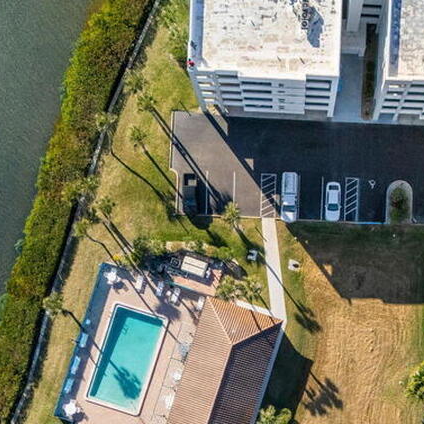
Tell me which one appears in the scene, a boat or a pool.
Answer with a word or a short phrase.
pool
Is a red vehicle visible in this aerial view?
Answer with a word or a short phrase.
No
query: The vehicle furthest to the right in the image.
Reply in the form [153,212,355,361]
[324,182,342,222]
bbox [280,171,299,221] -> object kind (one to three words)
vehicle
